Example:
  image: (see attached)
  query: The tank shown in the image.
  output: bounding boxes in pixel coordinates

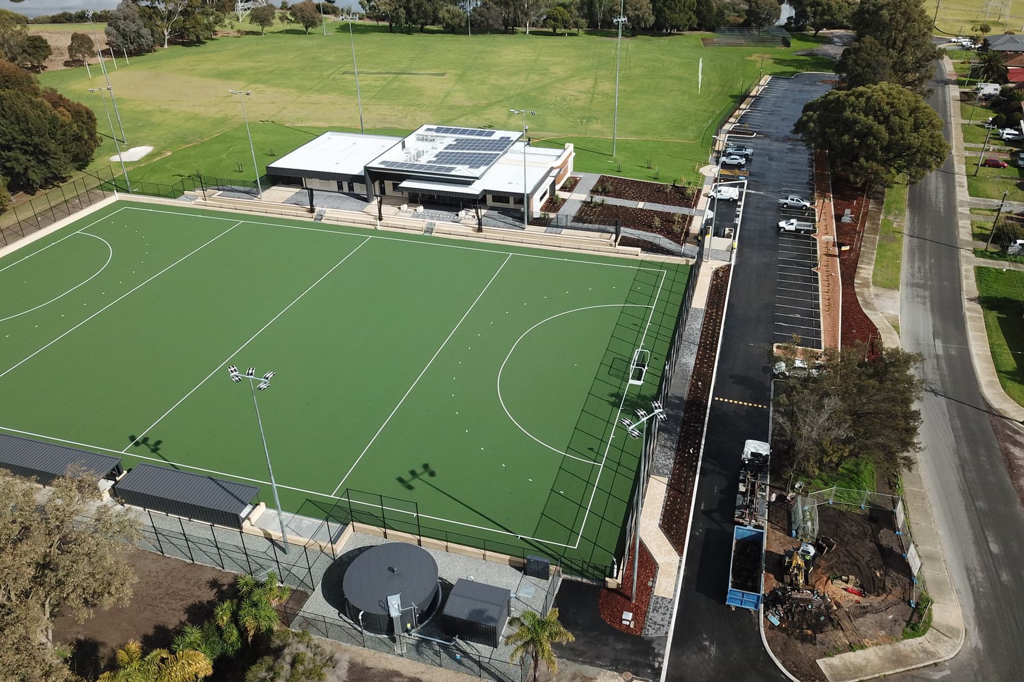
[338,540,456,653]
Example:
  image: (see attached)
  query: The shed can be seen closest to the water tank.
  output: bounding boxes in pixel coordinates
[442,578,517,651]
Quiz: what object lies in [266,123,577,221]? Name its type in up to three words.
building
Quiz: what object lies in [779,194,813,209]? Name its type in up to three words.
vehicle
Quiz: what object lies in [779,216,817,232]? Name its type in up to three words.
vehicle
